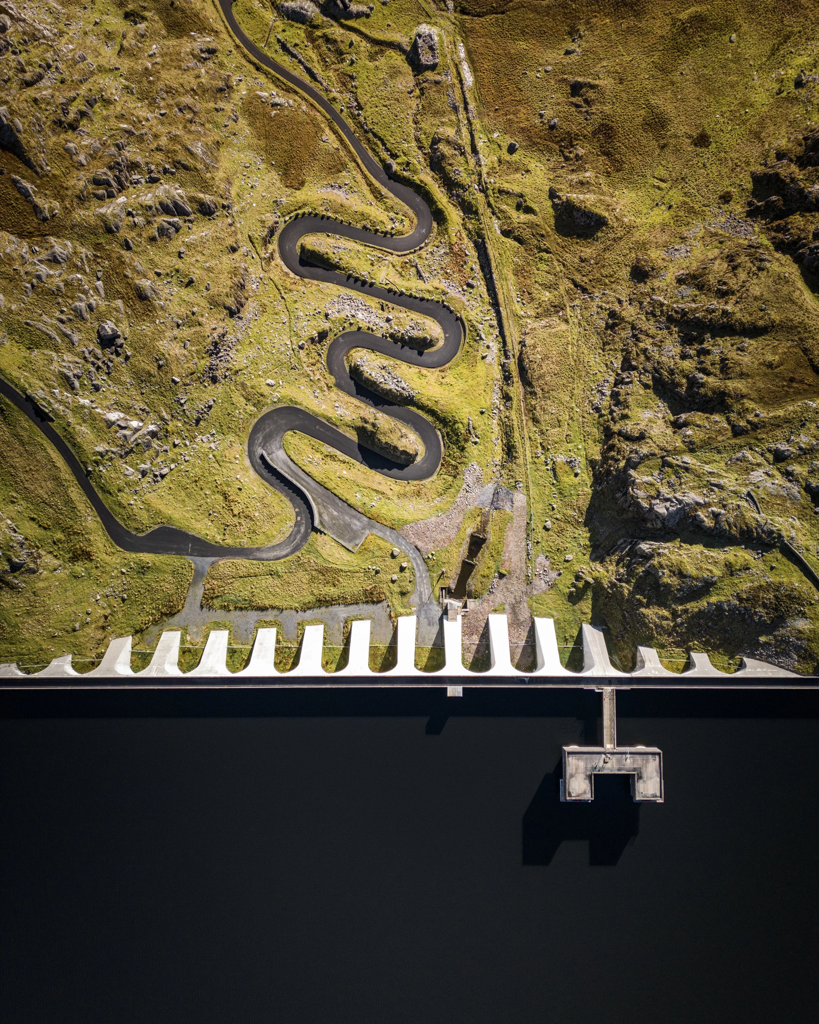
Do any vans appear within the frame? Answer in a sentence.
No, I can't see a single van in this photo.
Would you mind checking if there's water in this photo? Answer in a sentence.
Yes, the picture does contain water.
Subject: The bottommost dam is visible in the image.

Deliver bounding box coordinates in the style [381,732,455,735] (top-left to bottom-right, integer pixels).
[0,614,819,688]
